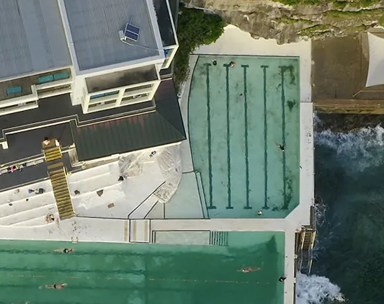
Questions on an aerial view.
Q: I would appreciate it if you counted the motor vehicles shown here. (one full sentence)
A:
There are no motor vehicles in this view.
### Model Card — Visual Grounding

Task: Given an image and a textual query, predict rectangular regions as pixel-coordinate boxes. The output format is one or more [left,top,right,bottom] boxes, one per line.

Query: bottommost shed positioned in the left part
[71,79,186,169]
